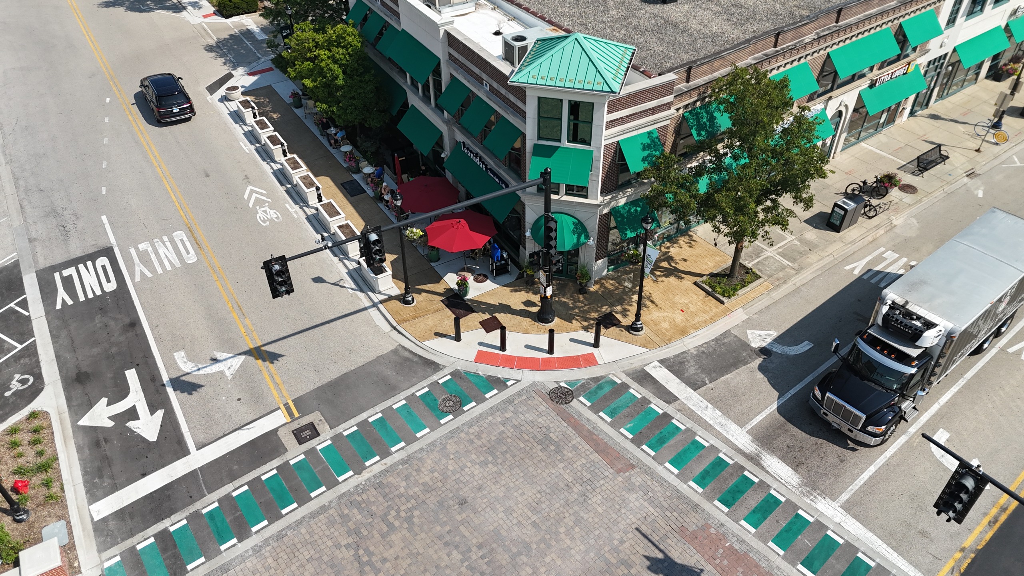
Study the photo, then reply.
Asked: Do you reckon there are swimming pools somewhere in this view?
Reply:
No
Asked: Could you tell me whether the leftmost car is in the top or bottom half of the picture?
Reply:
top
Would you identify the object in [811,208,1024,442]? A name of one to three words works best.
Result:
truck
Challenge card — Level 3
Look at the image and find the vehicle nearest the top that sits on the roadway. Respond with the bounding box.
[143,82,194,125]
